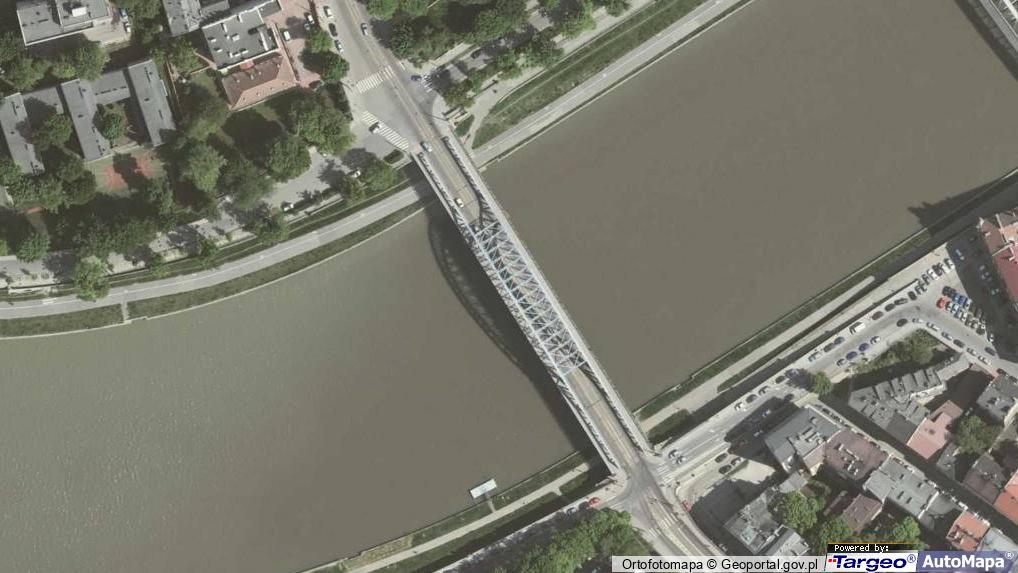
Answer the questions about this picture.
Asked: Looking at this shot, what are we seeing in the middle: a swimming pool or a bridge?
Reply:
bridge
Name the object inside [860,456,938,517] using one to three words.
house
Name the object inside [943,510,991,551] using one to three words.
house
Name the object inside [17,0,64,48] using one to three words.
building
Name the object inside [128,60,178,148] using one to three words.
building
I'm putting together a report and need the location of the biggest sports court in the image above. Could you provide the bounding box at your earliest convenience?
[85,147,168,196]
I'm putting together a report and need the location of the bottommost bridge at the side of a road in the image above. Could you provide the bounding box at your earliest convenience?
[413,119,653,478]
